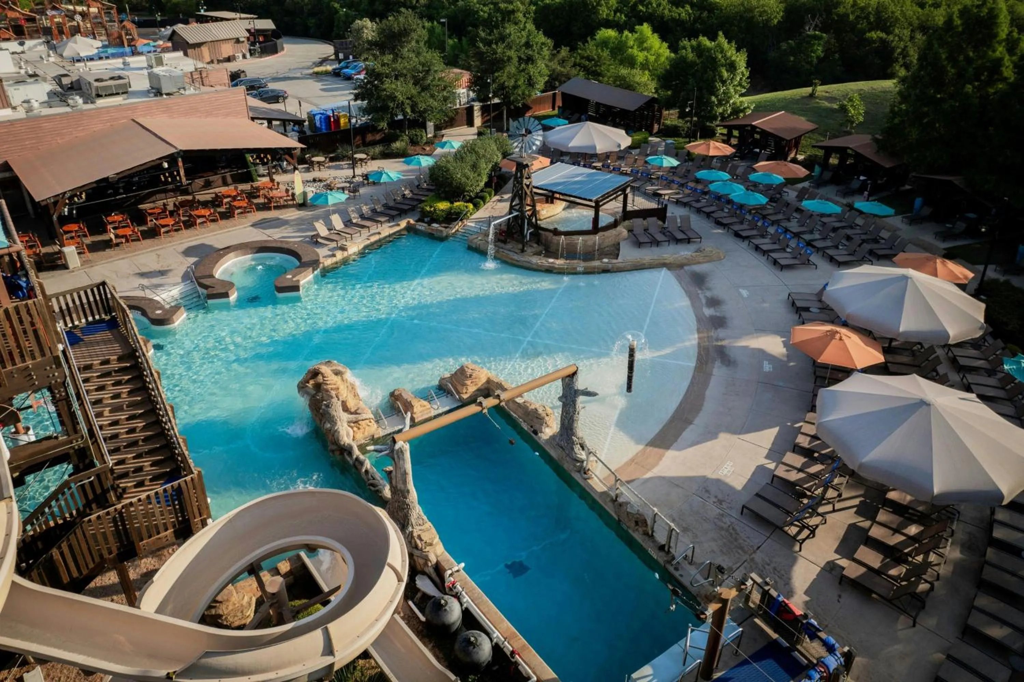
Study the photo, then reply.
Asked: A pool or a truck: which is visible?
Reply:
pool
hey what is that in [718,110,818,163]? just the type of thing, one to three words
gazebo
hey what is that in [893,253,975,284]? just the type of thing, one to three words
umbrella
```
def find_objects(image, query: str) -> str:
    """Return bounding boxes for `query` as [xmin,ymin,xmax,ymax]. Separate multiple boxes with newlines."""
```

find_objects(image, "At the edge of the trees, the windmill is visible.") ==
[507,115,547,249]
